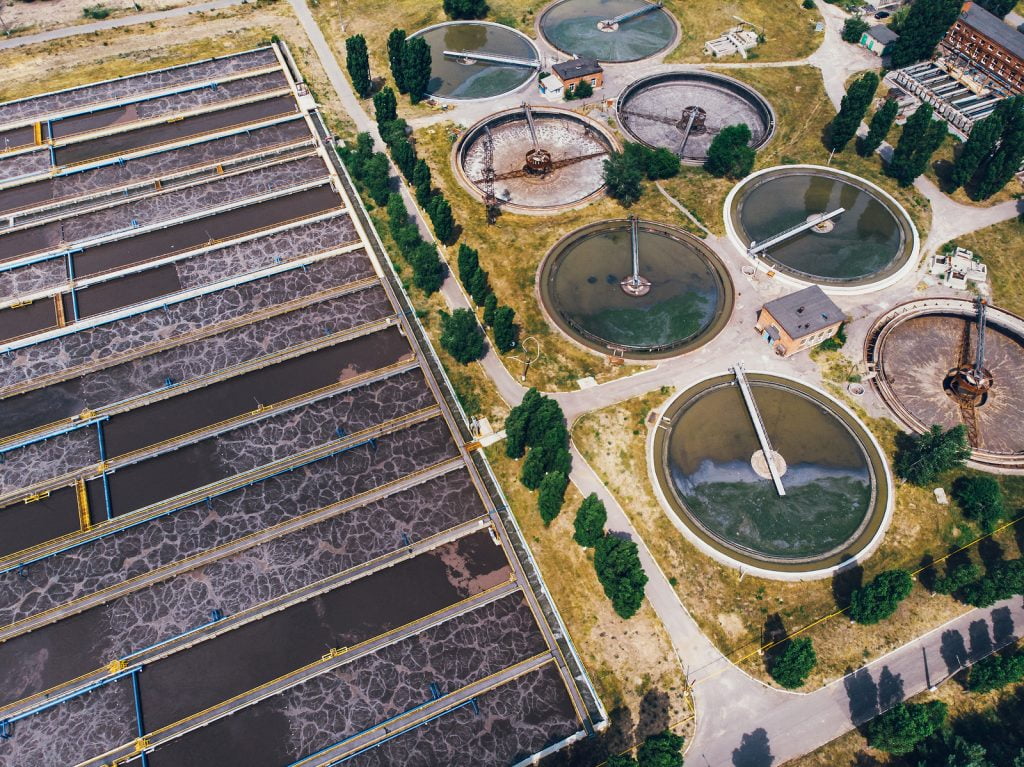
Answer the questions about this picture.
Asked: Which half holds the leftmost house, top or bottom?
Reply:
top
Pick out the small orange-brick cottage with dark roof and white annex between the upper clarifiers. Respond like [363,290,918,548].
[543,59,605,104]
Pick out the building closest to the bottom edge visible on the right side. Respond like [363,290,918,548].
[758,285,850,353]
